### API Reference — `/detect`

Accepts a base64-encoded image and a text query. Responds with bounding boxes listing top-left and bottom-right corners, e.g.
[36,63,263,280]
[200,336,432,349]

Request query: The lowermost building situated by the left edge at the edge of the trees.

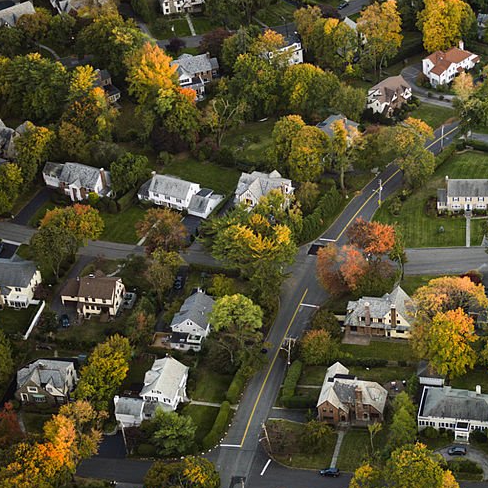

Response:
[13,358,82,411]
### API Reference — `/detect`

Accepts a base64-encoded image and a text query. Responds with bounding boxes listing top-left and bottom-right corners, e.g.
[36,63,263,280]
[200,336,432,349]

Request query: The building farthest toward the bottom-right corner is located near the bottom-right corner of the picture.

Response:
[417,378,488,453]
